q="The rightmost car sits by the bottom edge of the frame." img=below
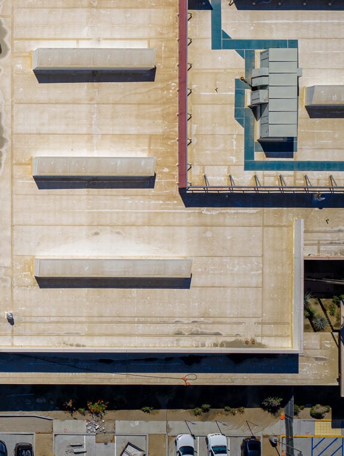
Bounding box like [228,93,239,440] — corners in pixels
[241,434,271,456]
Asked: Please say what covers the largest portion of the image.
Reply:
buildings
